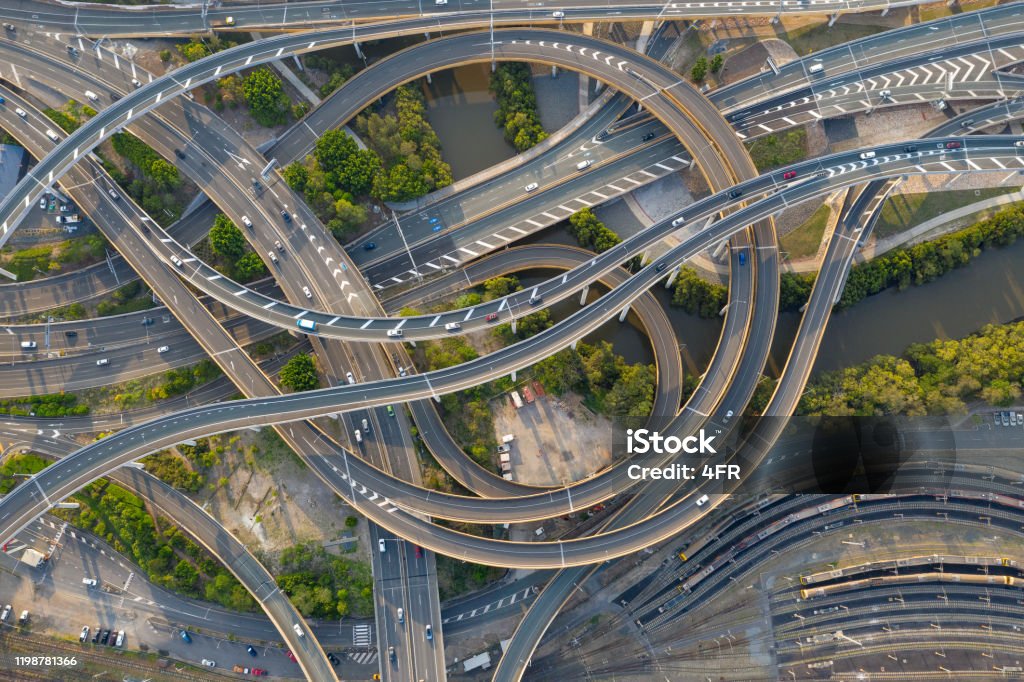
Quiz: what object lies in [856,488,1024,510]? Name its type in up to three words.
train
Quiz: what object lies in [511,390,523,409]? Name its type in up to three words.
vehicle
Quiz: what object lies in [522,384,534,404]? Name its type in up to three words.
vehicle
